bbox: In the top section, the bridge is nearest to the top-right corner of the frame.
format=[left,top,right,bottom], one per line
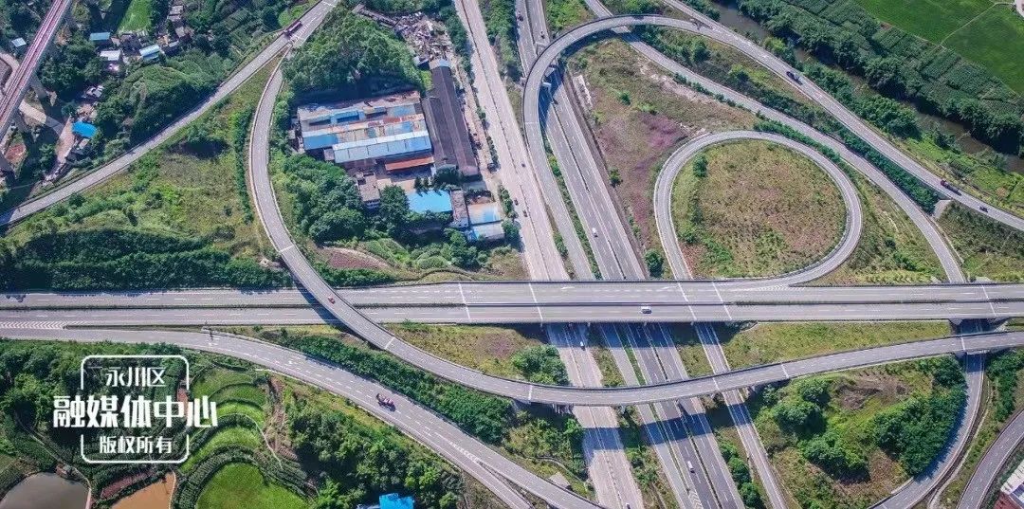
[890,152,952,219]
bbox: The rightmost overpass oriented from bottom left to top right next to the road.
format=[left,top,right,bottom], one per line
[523,13,655,153]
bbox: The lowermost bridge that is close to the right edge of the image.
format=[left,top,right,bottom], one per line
[941,331,1004,353]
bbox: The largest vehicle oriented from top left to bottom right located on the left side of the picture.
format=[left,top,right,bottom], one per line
[377,392,394,407]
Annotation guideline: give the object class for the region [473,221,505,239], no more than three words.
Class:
shed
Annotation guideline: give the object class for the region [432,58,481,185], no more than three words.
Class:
building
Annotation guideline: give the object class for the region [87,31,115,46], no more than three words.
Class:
house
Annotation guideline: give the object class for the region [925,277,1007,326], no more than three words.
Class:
overpass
